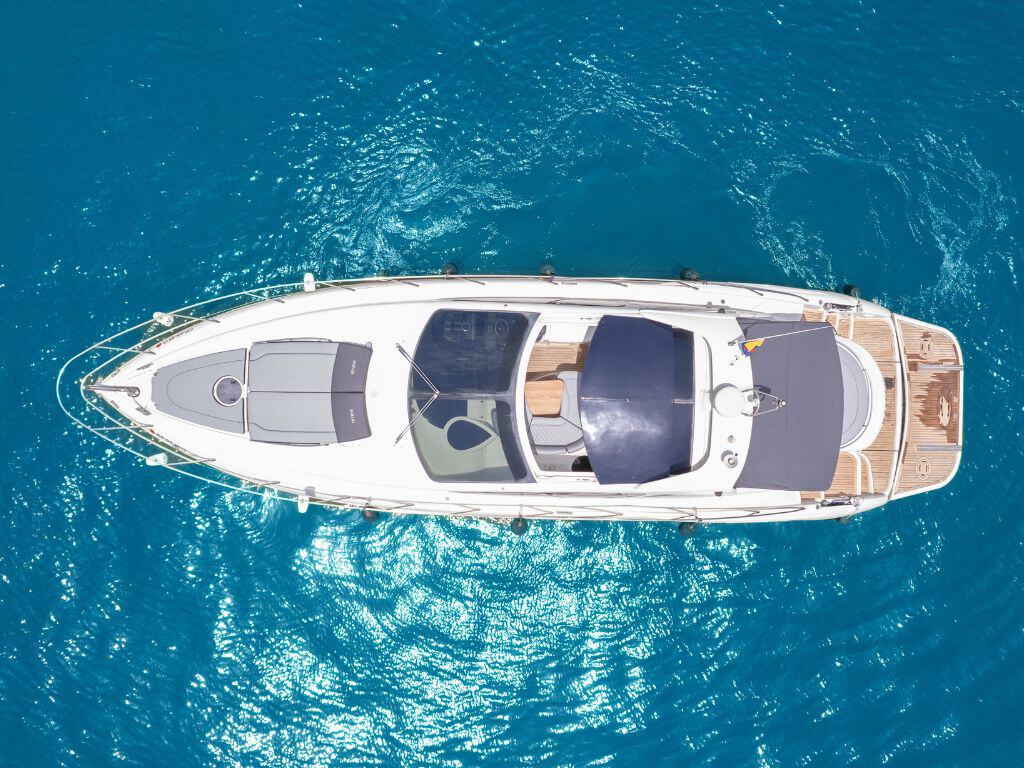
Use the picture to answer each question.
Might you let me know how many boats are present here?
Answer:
1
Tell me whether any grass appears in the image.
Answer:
No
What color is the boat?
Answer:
white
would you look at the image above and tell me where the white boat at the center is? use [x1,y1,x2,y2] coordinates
[56,274,965,522]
